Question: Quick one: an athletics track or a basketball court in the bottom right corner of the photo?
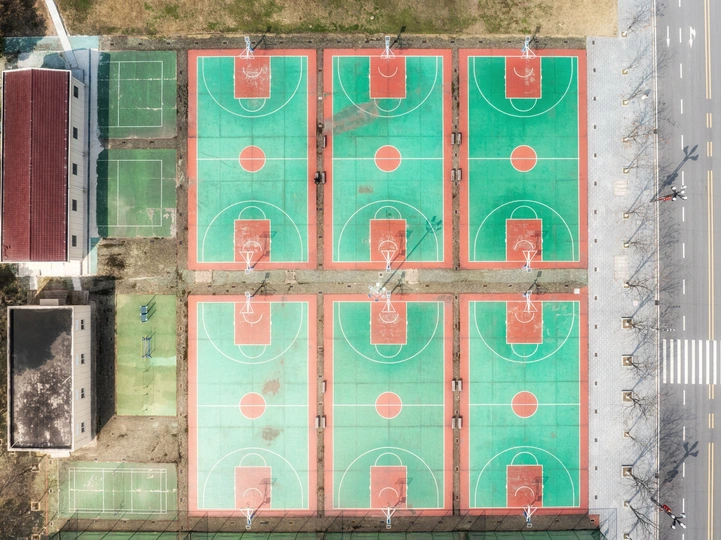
basketball court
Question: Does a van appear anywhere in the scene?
No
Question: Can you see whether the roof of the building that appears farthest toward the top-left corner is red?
Yes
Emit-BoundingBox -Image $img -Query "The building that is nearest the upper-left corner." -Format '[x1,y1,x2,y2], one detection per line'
[1,65,86,263]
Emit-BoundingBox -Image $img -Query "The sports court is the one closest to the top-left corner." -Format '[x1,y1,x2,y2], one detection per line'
[96,51,177,139]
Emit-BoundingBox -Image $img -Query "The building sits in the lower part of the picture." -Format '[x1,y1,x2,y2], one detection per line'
[8,296,92,451]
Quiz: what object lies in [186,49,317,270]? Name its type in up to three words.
basketball court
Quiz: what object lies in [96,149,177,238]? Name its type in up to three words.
sports court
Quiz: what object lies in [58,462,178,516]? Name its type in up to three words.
sports court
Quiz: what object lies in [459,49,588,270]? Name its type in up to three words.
basketball court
